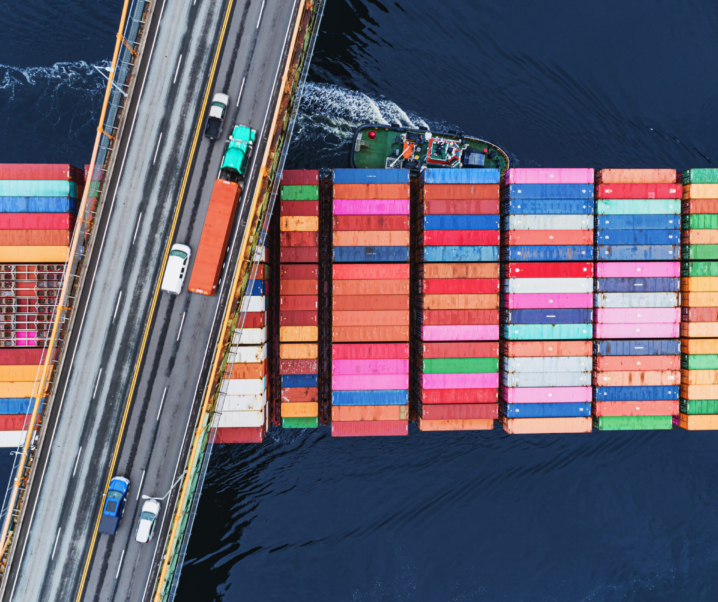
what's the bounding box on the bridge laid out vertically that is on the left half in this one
[0,0,328,602]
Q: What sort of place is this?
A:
port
